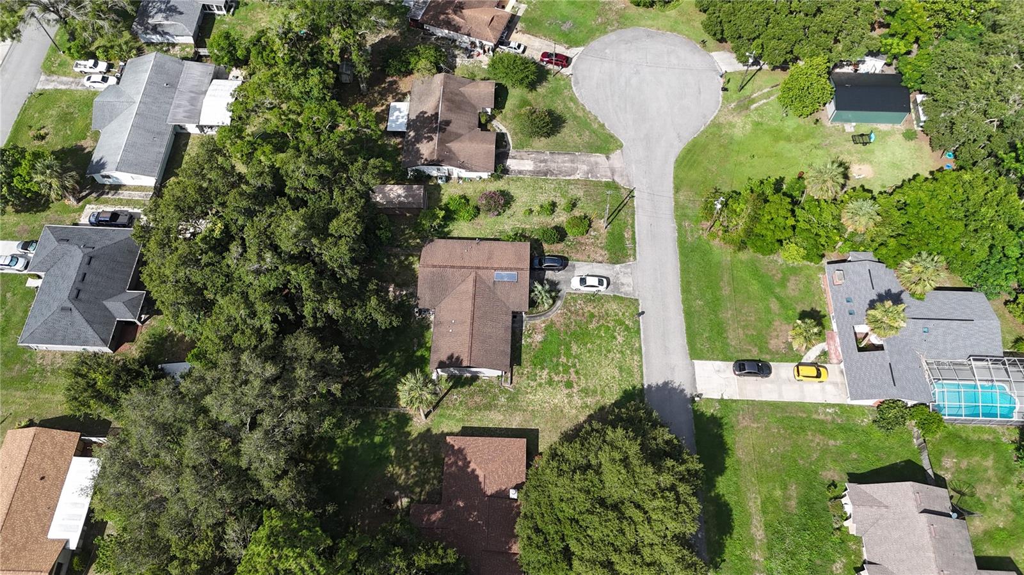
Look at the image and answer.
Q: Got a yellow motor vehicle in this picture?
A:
Yes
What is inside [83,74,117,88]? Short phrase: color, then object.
white car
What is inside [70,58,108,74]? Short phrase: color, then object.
white vehicle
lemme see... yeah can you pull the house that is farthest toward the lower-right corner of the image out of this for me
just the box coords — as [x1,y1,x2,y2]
[830,482,983,575]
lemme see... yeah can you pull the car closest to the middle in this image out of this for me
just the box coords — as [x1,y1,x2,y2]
[532,254,568,271]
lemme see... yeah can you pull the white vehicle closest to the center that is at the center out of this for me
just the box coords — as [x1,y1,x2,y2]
[571,274,608,291]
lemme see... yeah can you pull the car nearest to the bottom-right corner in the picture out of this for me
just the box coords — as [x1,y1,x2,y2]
[792,363,829,381]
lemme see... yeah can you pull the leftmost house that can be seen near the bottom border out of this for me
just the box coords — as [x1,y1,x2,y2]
[0,427,106,575]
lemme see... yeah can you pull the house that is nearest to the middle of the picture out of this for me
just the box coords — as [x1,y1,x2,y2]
[417,237,530,377]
